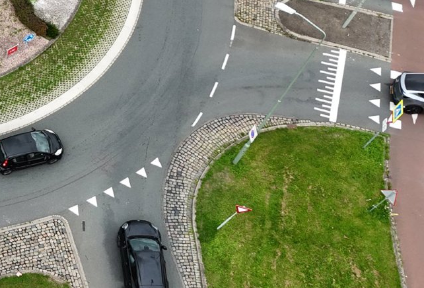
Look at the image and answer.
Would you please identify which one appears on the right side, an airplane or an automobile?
automobile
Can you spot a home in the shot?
No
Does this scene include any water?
No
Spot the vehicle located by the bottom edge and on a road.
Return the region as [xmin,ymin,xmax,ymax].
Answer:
[117,219,171,288]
